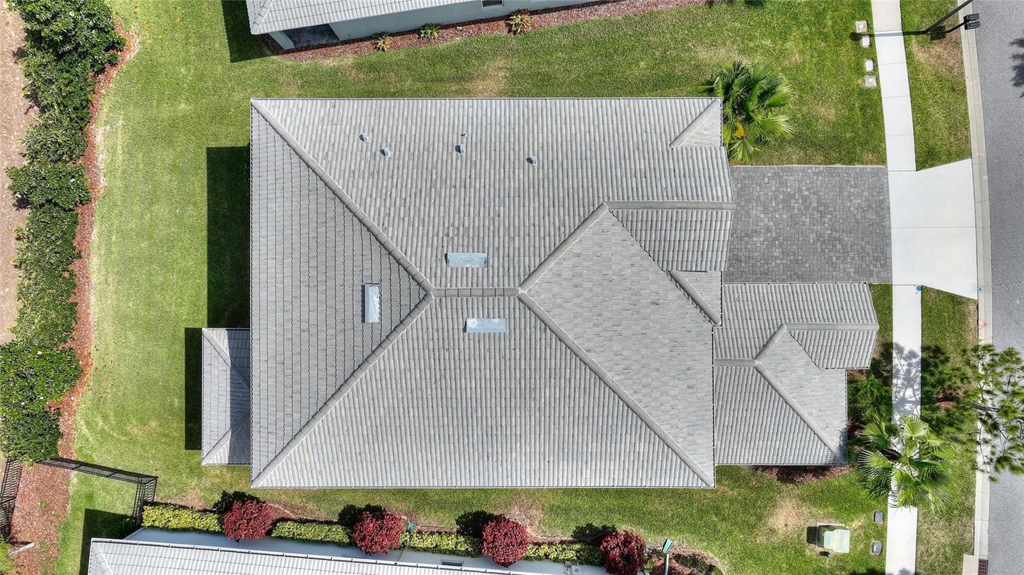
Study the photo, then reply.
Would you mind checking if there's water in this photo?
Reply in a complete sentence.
No, water can't be seen anywhere here.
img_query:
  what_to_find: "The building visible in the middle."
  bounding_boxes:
[202,97,881,488]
